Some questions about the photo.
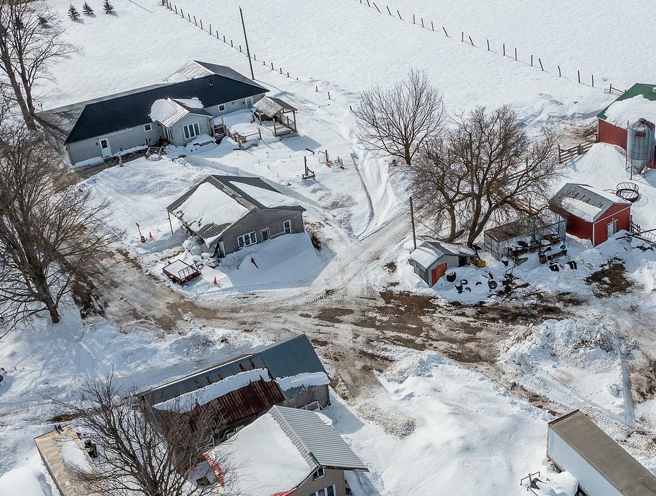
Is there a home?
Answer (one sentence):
Yes, looking at the shot, I can spot a home.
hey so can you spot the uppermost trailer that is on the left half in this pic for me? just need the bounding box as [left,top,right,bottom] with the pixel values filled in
[162,260,200,287]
